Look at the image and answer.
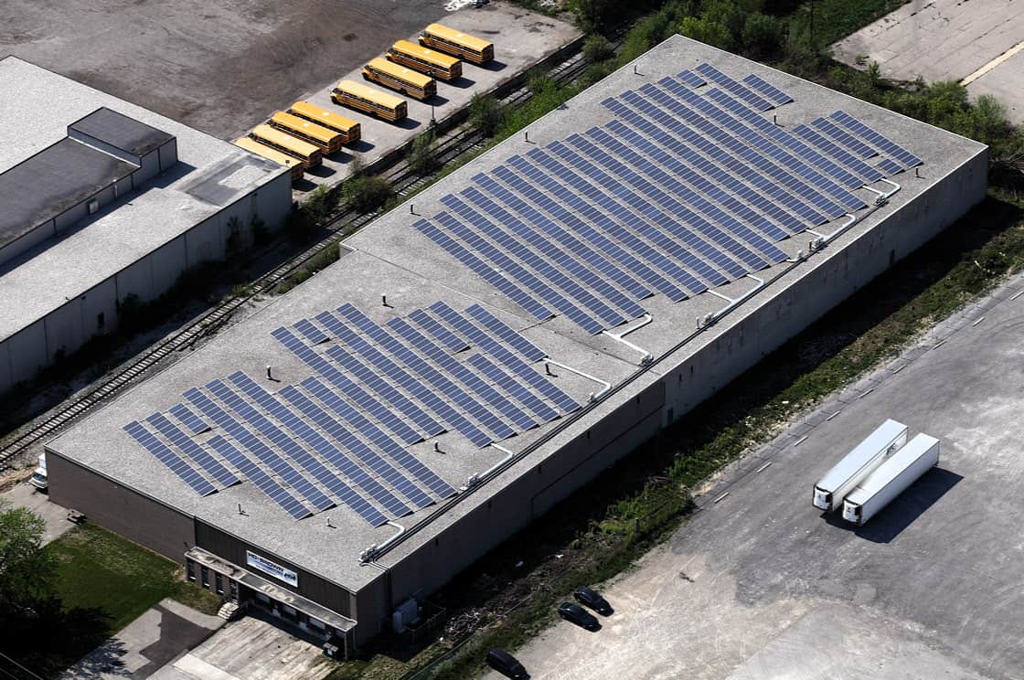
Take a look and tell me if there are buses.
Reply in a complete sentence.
Yes, I can see a bus in this picture.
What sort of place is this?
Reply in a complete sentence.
The picture captures an industrial area.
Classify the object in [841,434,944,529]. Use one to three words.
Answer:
trailer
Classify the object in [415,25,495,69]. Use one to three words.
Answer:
bus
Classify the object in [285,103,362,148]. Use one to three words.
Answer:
bus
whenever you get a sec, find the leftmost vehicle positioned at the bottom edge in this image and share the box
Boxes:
[482,644,526,677]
